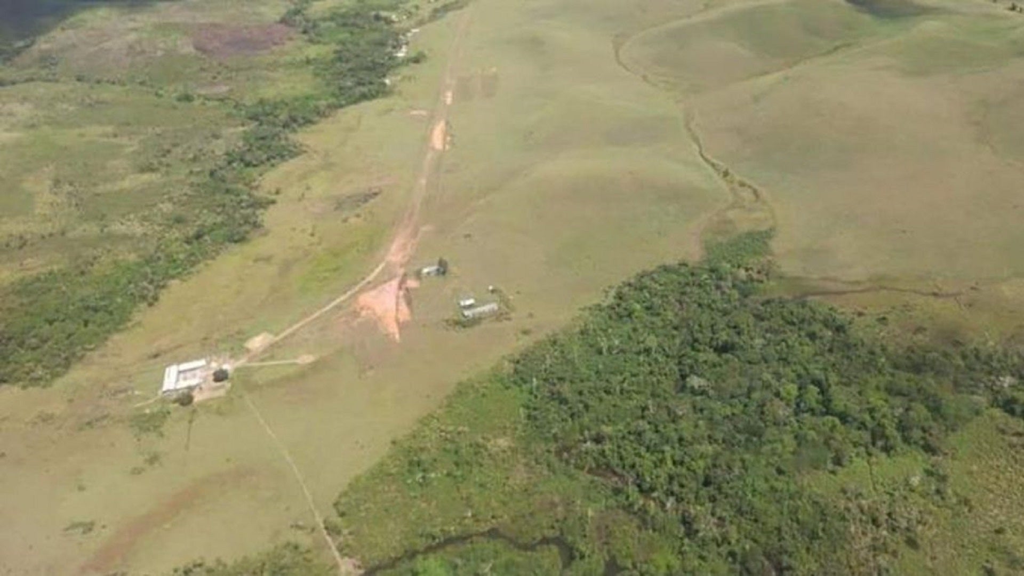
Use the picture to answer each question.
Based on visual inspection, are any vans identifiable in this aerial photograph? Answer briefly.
No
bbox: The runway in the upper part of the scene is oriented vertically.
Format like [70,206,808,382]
[394,0,473,277]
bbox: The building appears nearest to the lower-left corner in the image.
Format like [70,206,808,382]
[163,361,213,396]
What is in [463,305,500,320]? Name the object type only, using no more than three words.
shed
